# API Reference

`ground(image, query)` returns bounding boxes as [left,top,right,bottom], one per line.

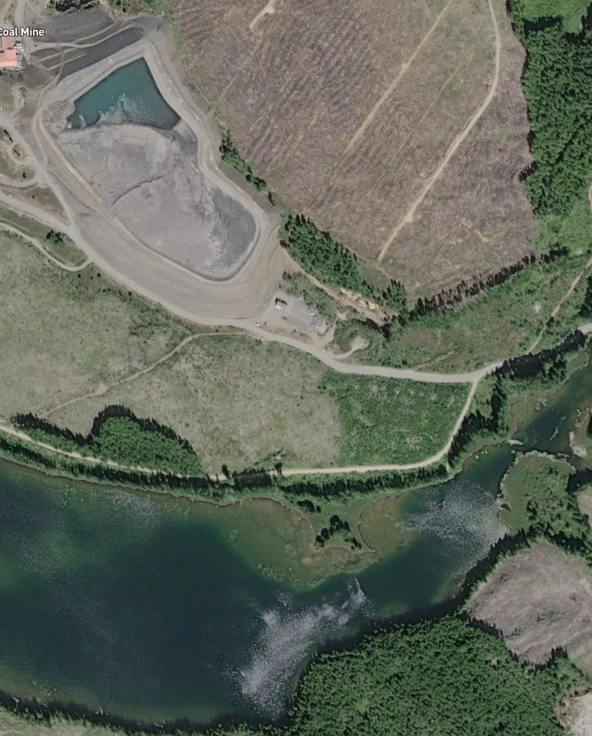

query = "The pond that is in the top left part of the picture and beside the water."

[68,56,181,130]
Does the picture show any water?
Yes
